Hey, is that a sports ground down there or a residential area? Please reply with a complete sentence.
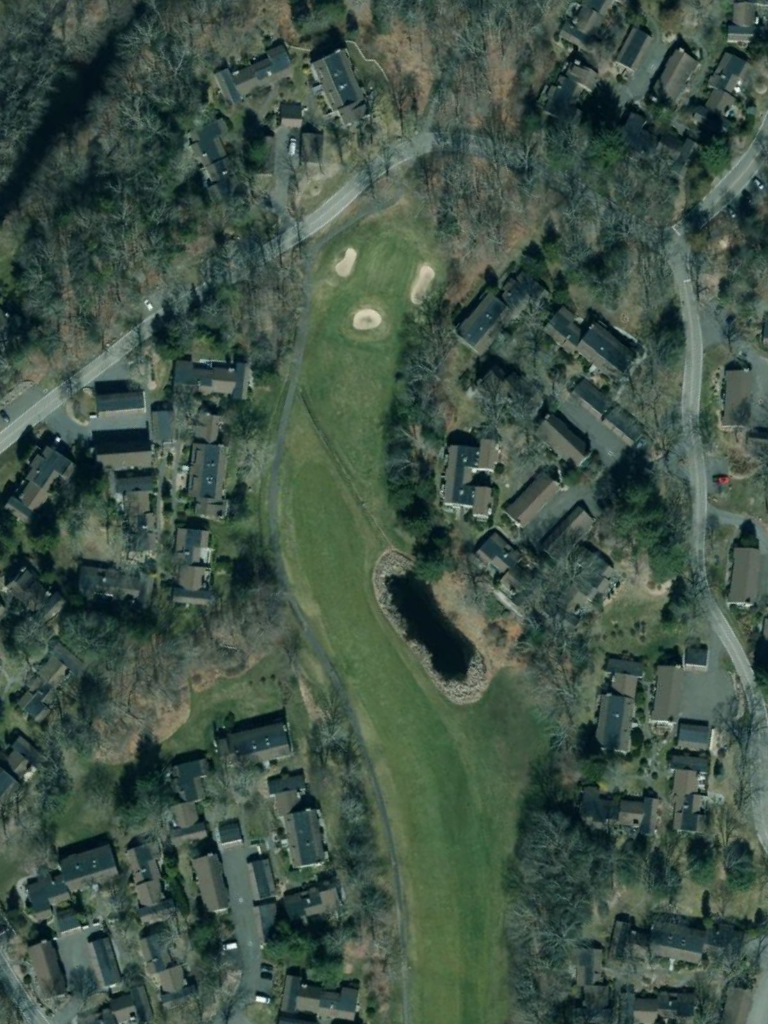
What you see here is a residential area.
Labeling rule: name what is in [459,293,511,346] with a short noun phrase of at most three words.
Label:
house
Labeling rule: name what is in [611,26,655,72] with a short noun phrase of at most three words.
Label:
building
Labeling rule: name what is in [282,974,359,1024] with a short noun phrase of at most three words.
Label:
house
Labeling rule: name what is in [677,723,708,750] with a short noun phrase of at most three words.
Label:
building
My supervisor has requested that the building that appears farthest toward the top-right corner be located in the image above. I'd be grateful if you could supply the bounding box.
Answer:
[727,0,758,43]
